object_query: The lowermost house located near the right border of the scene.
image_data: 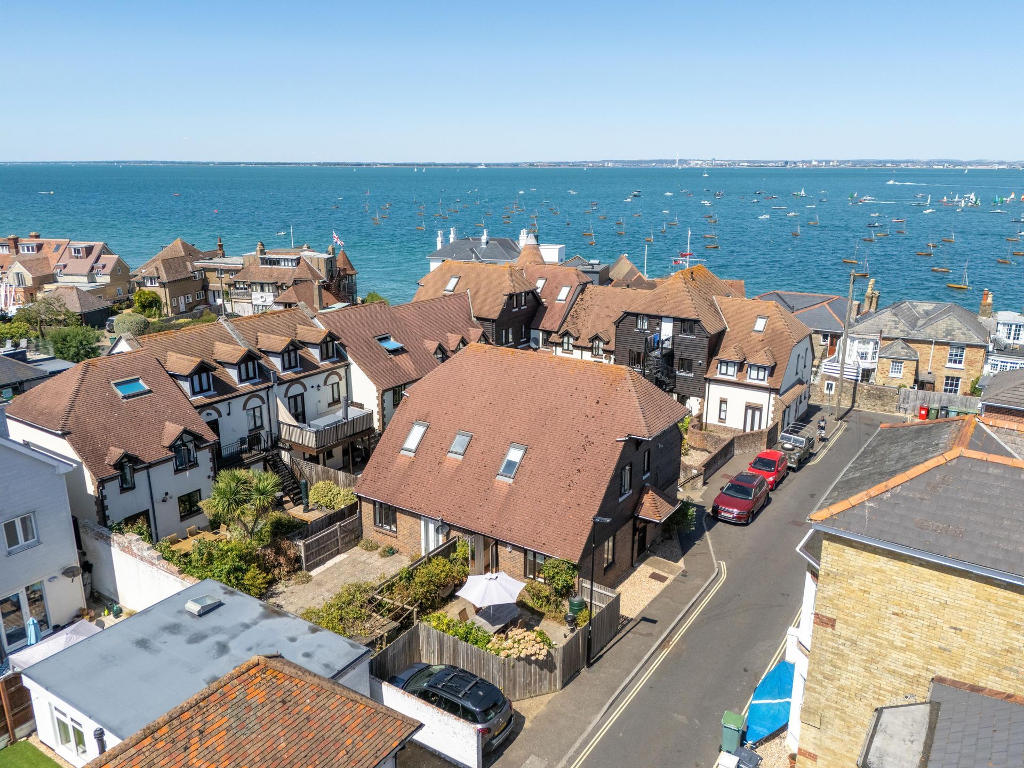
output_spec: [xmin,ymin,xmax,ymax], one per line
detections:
[788,413,1024,768]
